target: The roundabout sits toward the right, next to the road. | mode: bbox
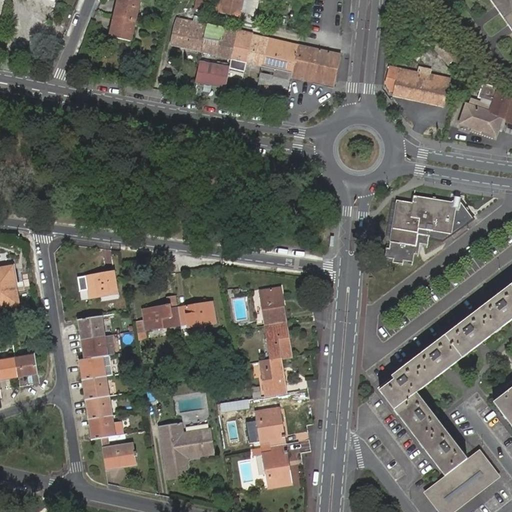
[316,106,404,194]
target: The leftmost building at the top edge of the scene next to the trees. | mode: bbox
[109,0,140,40]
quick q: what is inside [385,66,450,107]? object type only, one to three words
house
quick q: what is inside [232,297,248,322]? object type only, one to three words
swimming pool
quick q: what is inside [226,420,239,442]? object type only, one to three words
swimming pool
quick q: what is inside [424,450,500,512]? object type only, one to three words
building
